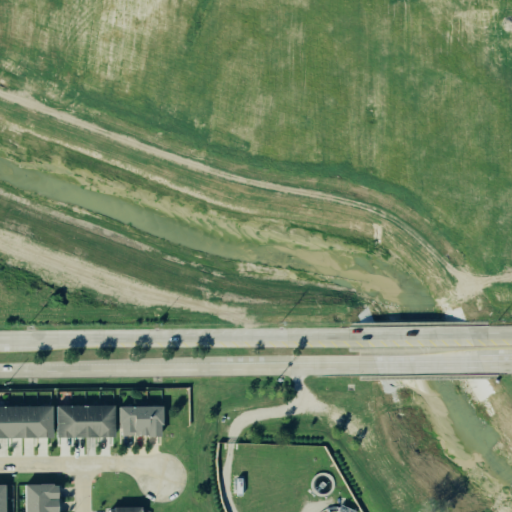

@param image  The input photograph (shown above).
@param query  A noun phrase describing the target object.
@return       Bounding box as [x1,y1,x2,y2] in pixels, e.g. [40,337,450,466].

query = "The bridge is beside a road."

[350,322,512,379]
